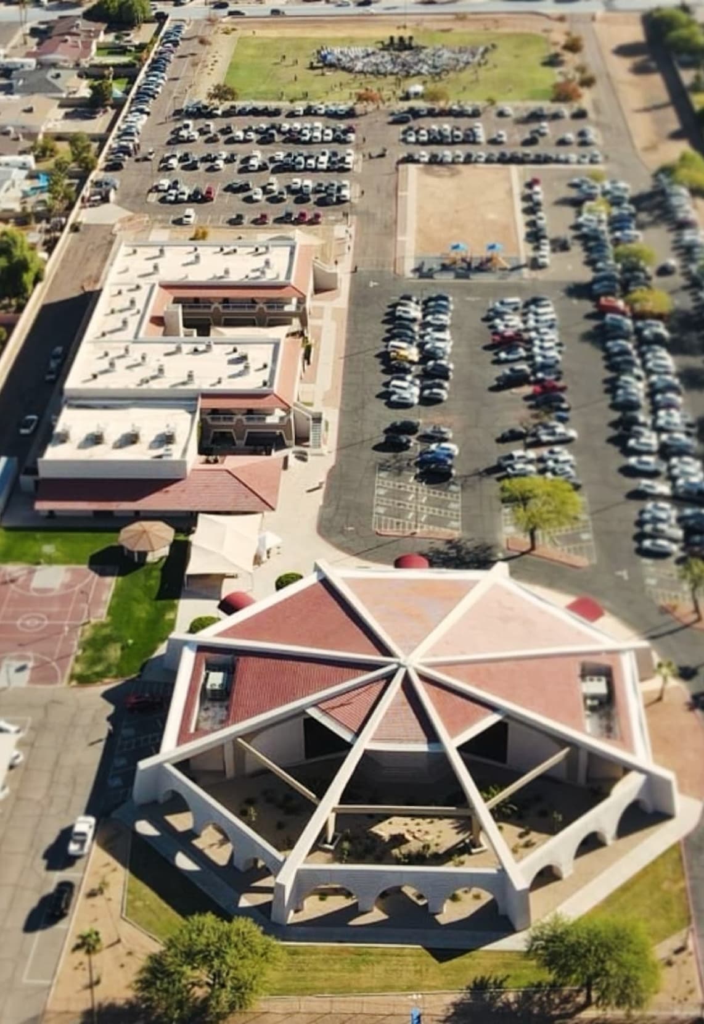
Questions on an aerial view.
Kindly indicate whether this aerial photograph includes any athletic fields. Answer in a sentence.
Yes, the frame does contain an athletic field.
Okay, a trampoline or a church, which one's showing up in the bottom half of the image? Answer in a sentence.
The one visible in the bottom half of the image is a church.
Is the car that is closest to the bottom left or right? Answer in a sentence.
The car that is closest to the bottom appears in the left half of the scene.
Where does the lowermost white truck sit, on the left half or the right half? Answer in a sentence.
The lowermost white truck is on the left side of the image.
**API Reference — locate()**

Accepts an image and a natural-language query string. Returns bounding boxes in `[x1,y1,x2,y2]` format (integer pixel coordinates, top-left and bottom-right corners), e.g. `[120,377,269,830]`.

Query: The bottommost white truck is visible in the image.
[65,817,97,861]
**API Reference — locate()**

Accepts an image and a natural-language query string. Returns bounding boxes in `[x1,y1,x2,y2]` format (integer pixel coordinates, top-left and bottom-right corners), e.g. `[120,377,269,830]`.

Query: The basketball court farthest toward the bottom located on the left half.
[0,565,120,686]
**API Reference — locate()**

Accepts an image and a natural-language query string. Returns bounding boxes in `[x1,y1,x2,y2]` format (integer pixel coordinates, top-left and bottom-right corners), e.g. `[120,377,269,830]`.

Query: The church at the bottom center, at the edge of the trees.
[133,558,680,931]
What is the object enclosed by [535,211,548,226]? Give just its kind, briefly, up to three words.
vehicle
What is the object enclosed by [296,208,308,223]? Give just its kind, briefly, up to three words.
vehicle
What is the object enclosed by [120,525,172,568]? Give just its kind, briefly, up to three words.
umbrella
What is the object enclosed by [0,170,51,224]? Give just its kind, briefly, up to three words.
house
